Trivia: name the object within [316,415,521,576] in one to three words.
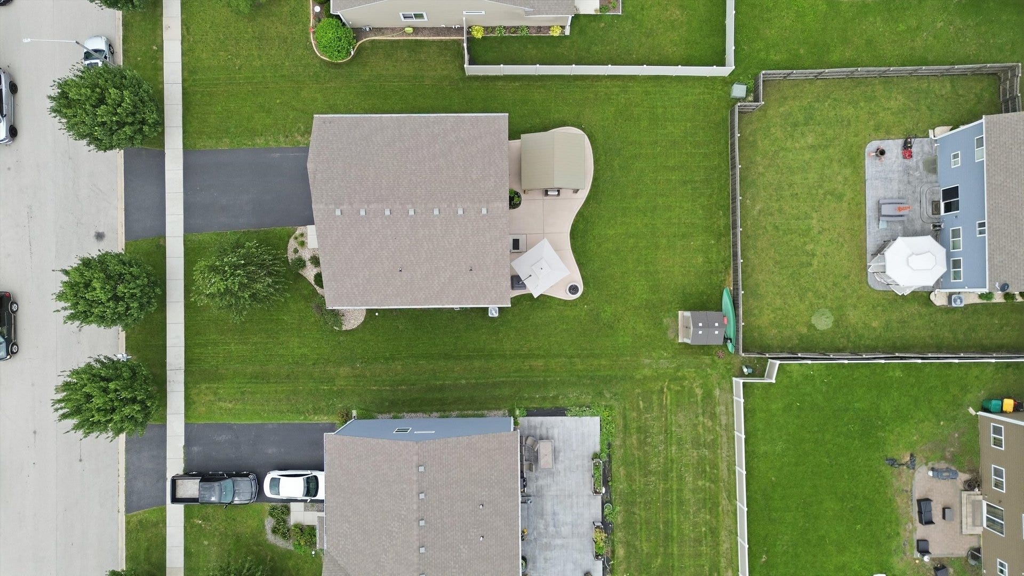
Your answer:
house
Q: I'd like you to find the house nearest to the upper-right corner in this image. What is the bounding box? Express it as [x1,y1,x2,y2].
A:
[930,112,1024,297]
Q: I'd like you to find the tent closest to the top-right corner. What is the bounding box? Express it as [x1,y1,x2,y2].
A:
[865,235,947,291]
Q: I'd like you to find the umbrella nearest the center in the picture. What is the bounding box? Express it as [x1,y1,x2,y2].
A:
[511,239,570,298]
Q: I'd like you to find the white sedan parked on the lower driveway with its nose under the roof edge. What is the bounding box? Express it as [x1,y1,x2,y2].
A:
[263,468,323,503]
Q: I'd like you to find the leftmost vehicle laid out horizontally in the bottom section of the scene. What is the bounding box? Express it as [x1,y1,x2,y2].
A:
[170,470,260,509]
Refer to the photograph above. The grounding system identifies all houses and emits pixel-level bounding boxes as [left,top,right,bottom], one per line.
[316,415,521,576]
[305,113,509,309]
[930,112,1024,297]
[975,412,1024,576]
[330,0,575,31]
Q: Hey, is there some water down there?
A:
No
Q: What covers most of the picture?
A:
grass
